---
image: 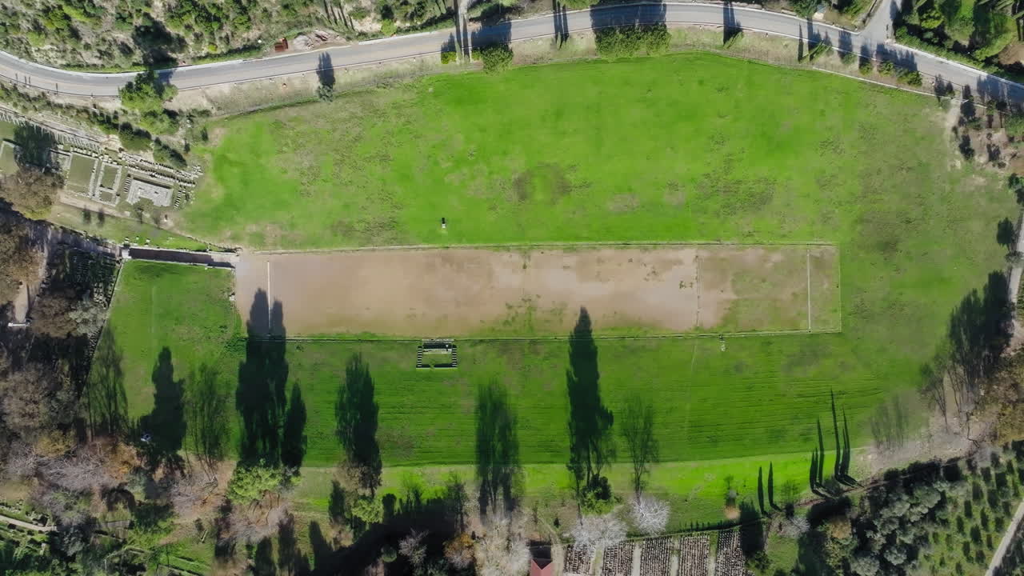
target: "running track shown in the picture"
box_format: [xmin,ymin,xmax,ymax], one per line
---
[243,244,840,339]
